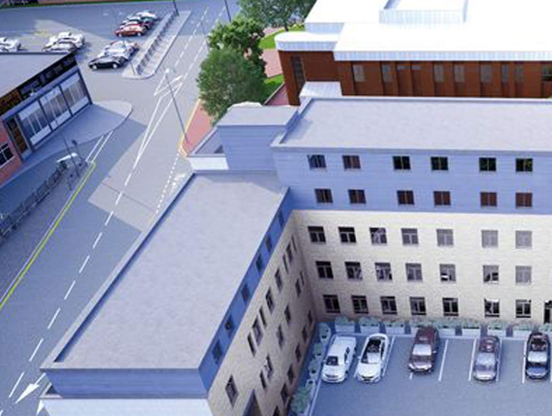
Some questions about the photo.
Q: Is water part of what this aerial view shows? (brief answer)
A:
No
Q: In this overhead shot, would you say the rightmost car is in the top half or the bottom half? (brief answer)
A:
bottom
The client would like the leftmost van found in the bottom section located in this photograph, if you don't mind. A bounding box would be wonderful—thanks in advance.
[320,325,357,380]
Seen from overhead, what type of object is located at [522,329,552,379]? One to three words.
car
